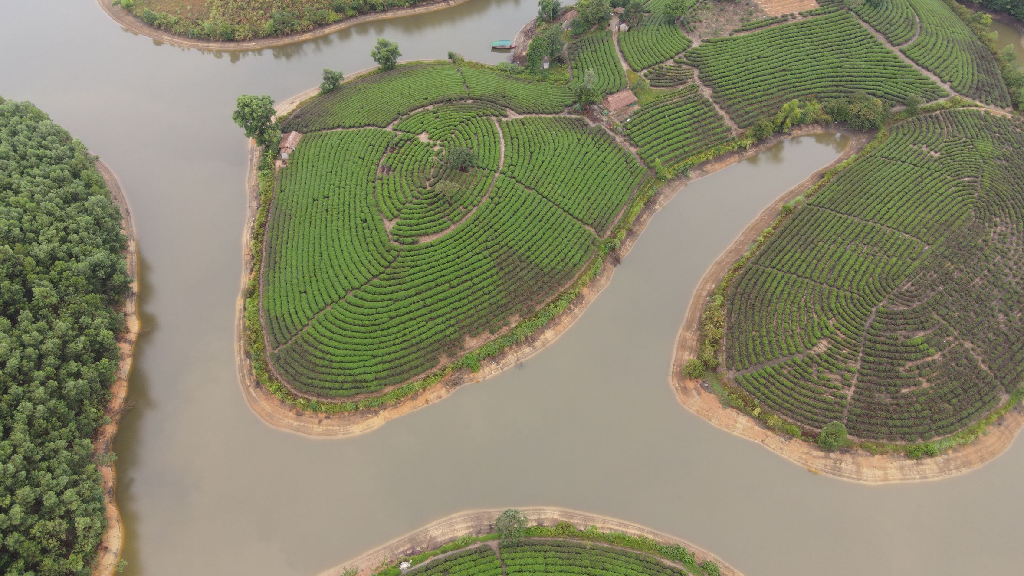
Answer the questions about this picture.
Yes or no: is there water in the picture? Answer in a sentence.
Yes, some water is visible.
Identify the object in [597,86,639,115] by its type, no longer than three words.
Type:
house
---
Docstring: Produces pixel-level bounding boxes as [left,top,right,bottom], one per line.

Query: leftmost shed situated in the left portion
[276,130,303,159]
